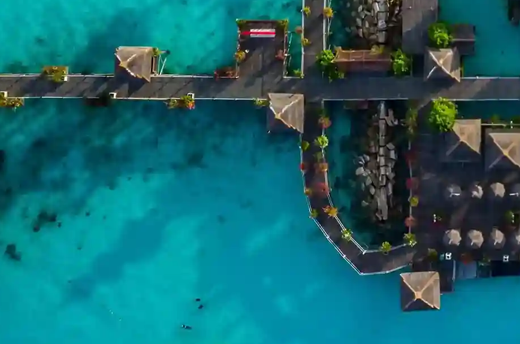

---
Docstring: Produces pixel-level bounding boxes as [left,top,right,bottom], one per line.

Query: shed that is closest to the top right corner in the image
[448,24,475,55]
